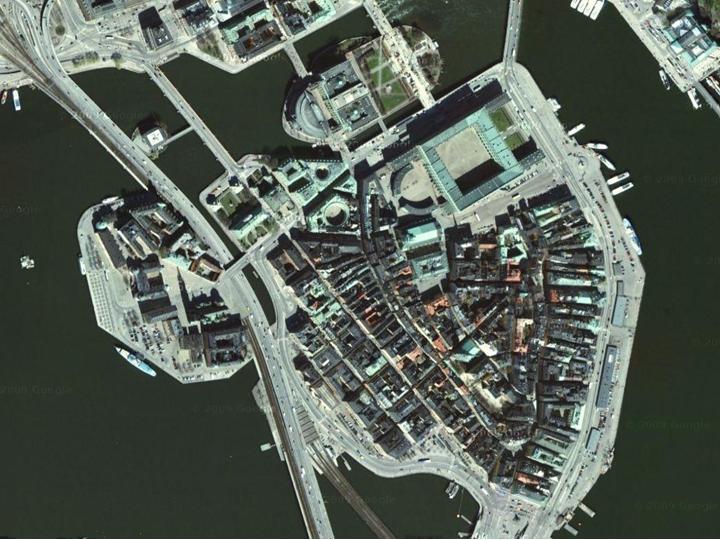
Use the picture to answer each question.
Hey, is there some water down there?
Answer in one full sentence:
Yes, water can be seen from above here.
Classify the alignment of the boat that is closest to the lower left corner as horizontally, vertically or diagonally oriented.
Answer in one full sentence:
Seen from above, the boat that is closest to the lower left corner lies diagonally.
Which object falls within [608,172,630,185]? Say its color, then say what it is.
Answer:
white boat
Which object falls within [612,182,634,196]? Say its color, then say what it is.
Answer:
white boat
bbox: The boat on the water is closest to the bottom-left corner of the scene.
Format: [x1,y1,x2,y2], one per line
[114,346,158,378]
